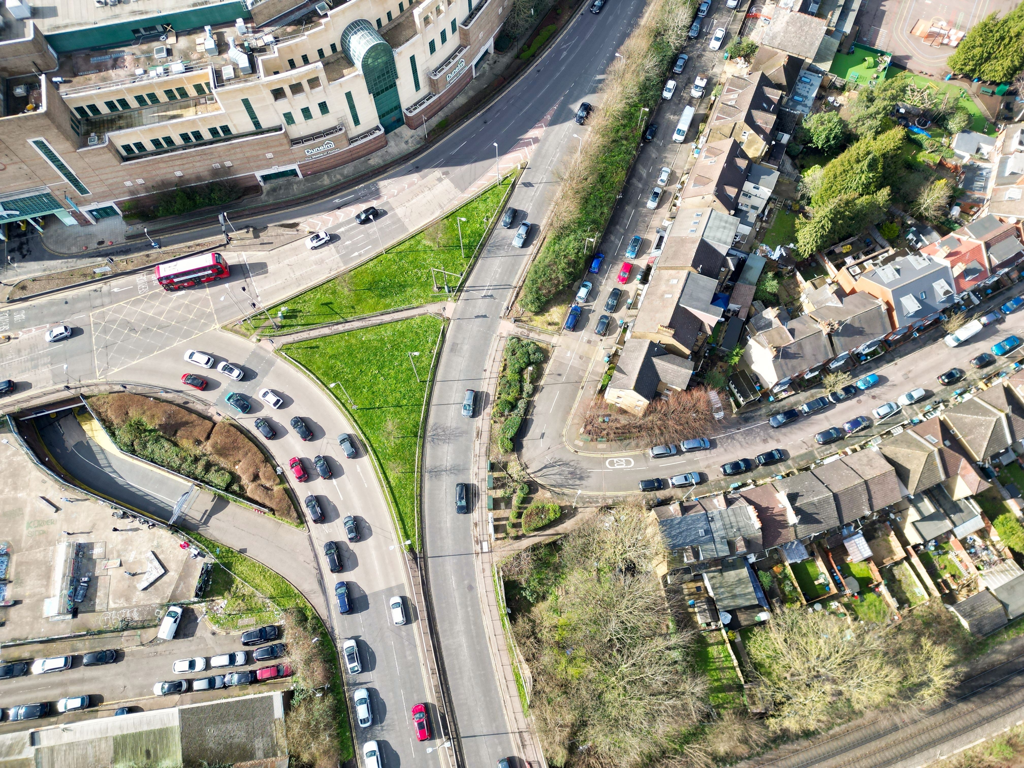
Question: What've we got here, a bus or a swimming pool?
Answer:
bus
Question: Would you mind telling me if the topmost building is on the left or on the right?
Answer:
right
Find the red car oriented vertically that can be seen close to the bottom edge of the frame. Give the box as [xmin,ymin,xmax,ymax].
[412,704,433,742]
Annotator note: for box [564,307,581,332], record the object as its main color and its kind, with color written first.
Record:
blue car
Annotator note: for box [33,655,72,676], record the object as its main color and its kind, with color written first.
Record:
white car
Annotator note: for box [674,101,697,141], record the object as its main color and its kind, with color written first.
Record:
white vehicle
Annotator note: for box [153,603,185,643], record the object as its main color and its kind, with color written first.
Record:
white van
